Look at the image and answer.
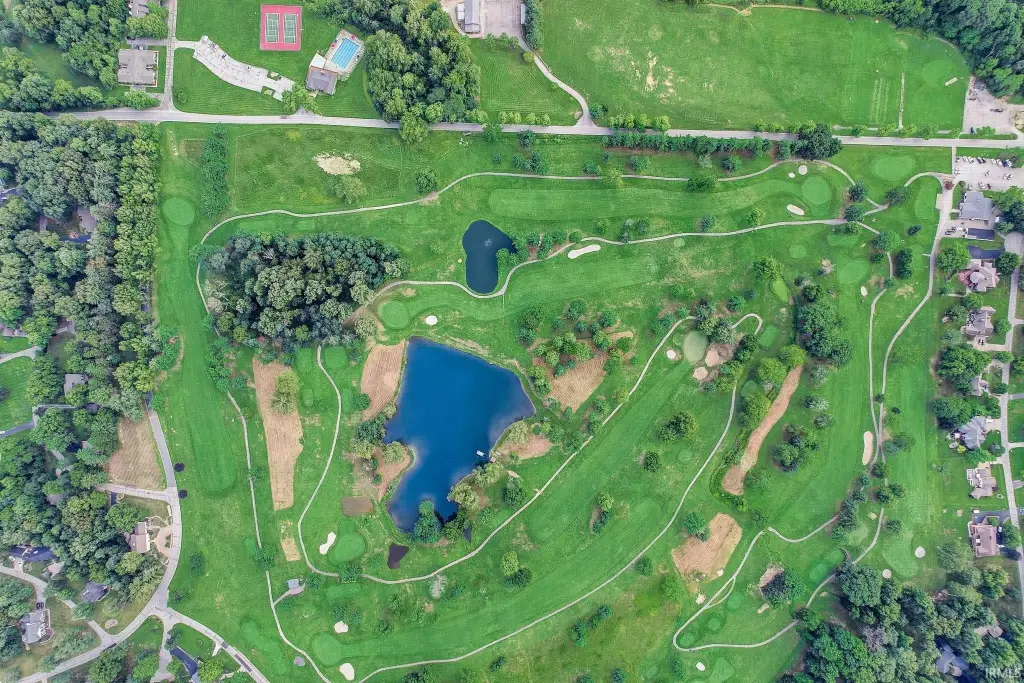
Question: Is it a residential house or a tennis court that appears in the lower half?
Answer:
residential house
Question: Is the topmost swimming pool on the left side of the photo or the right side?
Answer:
left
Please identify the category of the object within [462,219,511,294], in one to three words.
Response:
pond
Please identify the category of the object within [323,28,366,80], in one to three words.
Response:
swimming pool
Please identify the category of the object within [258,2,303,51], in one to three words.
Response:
tennis court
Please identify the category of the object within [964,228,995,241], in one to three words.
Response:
shed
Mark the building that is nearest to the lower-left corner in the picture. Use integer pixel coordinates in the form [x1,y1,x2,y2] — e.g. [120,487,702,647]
[19,608,57,642]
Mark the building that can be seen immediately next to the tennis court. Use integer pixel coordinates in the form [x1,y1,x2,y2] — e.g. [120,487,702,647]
[304,52,338,96]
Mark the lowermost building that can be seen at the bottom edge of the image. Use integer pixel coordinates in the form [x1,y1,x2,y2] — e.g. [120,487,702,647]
[935,642,969,676]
